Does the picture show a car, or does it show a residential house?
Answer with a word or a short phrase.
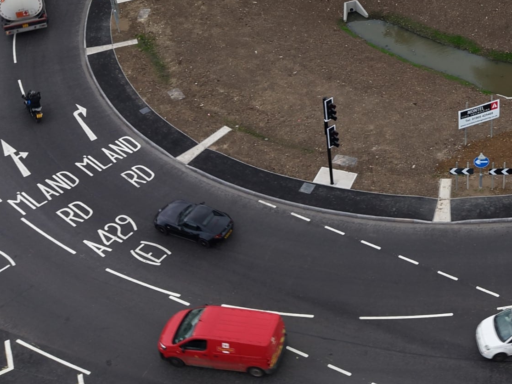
car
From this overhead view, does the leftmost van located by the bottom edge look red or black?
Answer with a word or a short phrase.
red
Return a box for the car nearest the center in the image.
[150,198,237,247]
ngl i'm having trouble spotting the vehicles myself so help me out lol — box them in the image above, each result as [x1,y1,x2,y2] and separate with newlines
[18,89,40,120]
[150,198,237,247]
[159,305,292,378]
[0,0,47,33]
[478,305,512,362]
